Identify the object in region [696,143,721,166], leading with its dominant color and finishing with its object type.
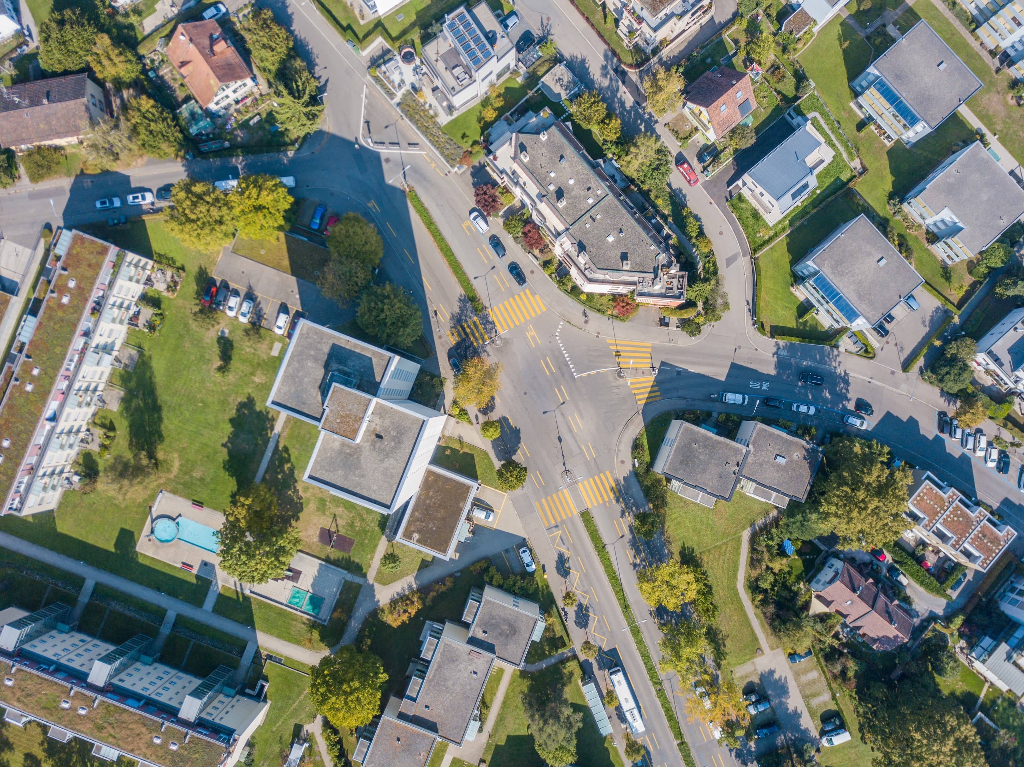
blue car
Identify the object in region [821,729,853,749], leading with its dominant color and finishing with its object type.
white vehicle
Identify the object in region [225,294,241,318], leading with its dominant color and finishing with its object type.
white car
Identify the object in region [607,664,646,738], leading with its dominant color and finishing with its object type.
white bus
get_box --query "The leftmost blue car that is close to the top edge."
[201,4,227,20]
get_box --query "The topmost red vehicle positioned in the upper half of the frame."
[674,160,698,188]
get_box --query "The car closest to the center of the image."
[448,354,466,377]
